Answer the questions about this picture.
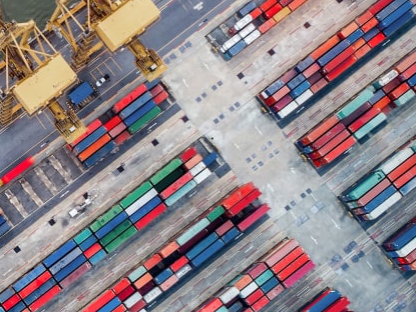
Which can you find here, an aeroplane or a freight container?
freight container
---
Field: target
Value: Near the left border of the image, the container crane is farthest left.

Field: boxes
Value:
[0,0,91,145]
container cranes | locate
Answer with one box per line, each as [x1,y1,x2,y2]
[0,0,91,145]
[46,0,172,84]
